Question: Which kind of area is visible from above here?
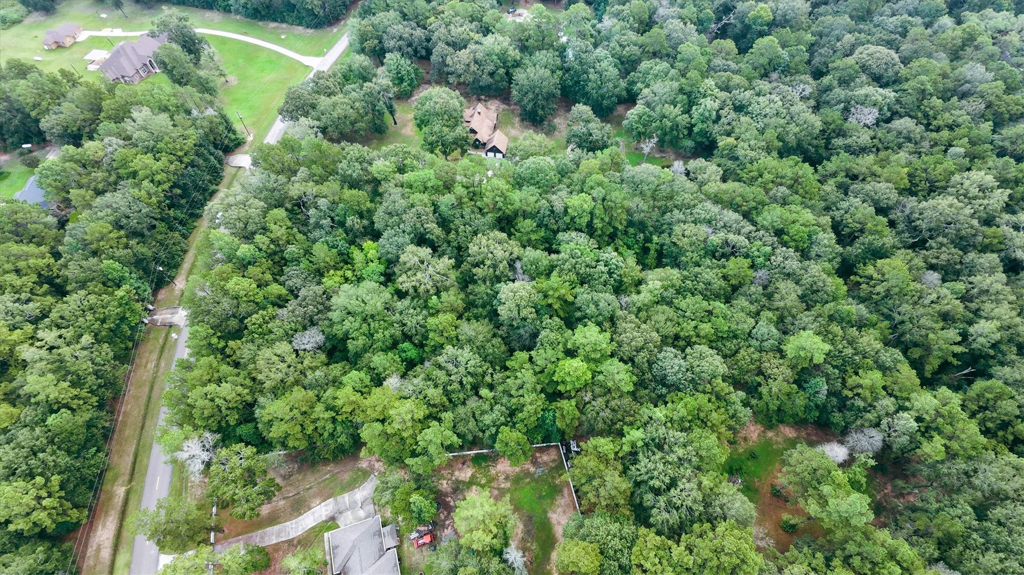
forest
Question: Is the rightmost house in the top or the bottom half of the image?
top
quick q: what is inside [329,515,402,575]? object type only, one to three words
house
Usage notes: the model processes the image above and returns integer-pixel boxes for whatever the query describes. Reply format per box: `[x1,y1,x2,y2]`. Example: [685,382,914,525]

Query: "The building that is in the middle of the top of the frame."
[464,103,508,159]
